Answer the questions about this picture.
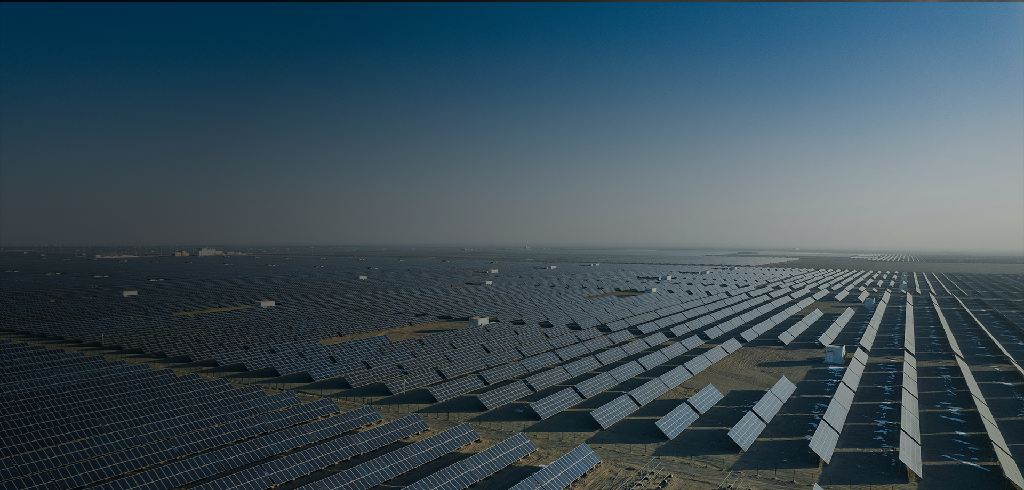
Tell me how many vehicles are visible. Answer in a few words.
0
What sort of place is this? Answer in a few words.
solar farm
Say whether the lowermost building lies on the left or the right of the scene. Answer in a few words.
right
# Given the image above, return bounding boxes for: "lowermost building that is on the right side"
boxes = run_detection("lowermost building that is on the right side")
[823,343,847,365]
